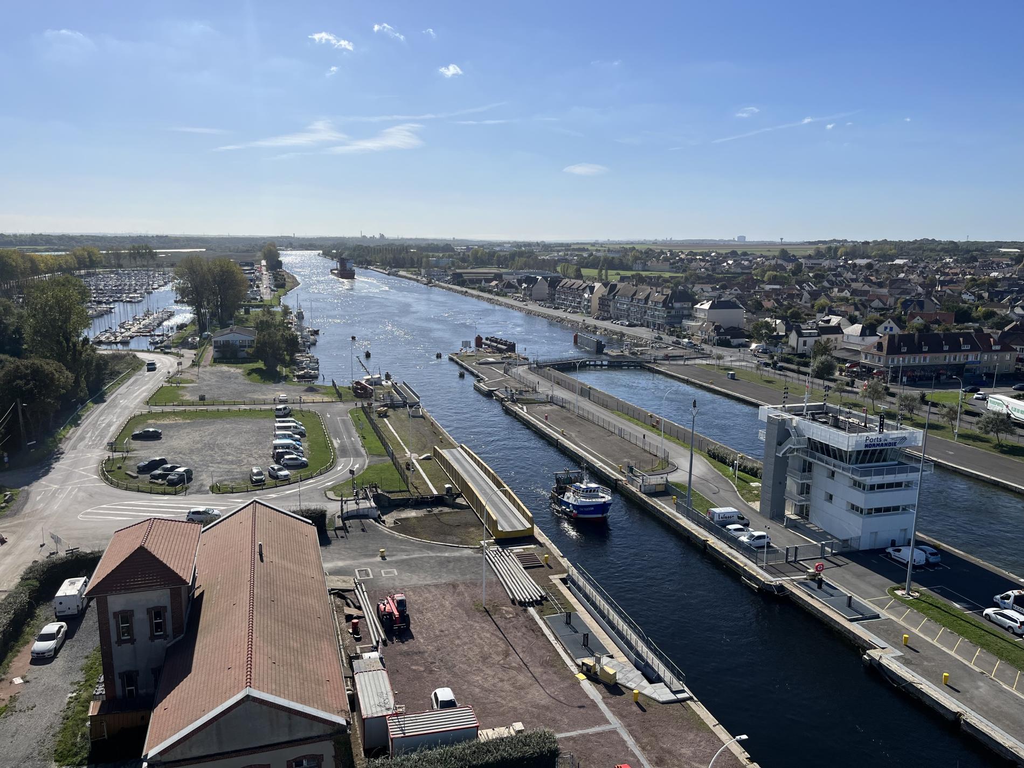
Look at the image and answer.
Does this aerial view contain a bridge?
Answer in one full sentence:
Yes, the picture does show a bridge.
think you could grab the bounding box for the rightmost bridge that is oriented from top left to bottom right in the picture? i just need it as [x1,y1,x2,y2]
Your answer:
[431,444,539,538]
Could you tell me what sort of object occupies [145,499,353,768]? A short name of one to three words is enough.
building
